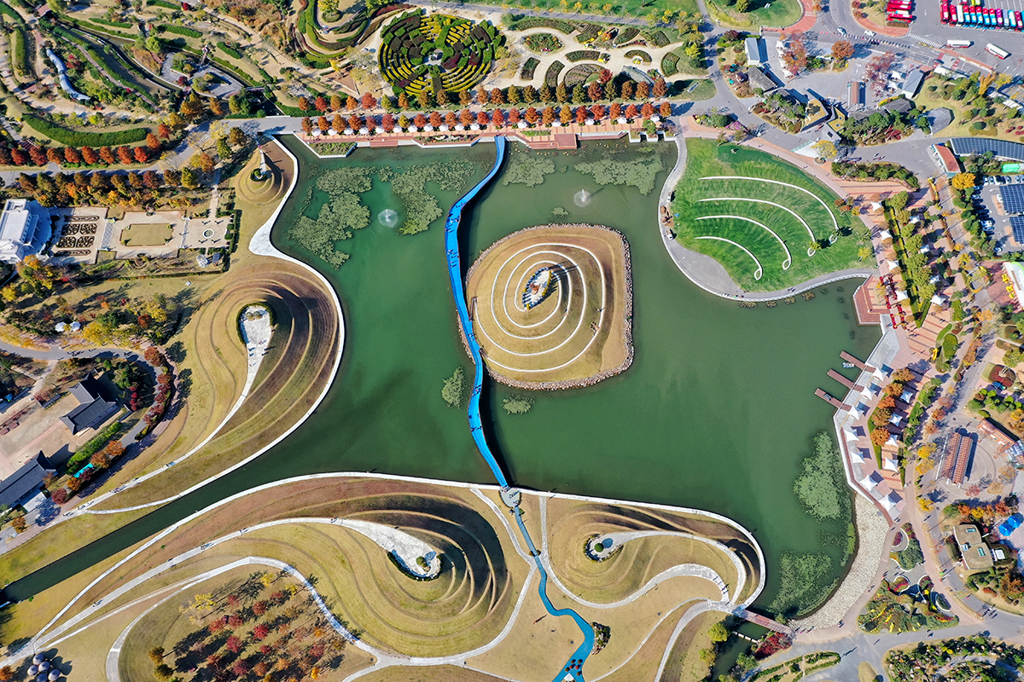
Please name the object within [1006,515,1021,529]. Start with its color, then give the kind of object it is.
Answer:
blue umbrella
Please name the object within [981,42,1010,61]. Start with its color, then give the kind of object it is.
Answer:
white vehicle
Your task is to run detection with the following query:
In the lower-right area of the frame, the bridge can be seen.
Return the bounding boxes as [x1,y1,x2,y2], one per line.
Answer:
[740,609,797,639]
